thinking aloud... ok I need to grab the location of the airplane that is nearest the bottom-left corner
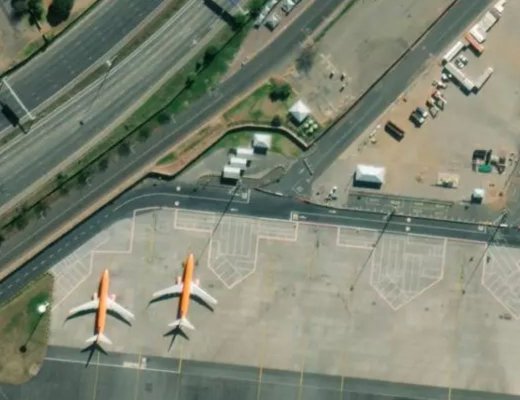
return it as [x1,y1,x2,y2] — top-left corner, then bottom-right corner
[70,269,134,345]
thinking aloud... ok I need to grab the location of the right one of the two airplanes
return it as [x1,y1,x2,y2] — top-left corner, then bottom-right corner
[154,253,217,330]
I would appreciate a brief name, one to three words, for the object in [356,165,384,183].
house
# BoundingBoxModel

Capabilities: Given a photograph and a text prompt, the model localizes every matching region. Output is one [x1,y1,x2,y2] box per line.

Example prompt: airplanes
[70,269,134,345]
[154,253,217,330]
